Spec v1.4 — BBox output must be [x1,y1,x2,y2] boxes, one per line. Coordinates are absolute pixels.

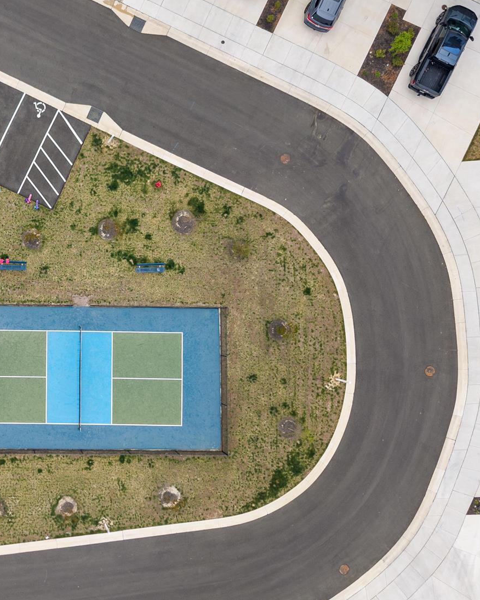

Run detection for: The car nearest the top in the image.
[306,0,347,32]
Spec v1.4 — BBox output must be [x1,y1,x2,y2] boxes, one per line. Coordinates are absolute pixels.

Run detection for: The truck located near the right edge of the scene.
[405,1,478,100]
